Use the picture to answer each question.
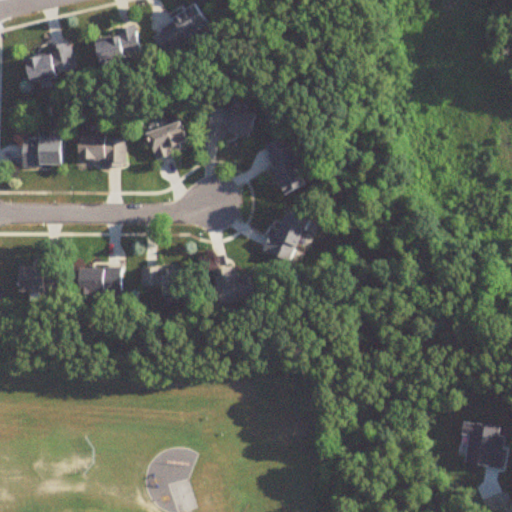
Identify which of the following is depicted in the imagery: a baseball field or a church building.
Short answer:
baseball field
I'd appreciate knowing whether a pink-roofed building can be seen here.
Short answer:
No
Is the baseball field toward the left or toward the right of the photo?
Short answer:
left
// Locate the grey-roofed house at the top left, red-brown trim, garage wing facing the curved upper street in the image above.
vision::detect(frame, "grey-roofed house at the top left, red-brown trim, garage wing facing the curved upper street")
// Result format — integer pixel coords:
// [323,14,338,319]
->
[27,42,74,77]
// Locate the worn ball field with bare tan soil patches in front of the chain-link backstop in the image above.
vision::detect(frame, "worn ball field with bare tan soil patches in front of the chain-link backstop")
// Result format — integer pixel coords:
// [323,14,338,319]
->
[28,436,100,502]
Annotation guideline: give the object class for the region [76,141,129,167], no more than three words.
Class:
house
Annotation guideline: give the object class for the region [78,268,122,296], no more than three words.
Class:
house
